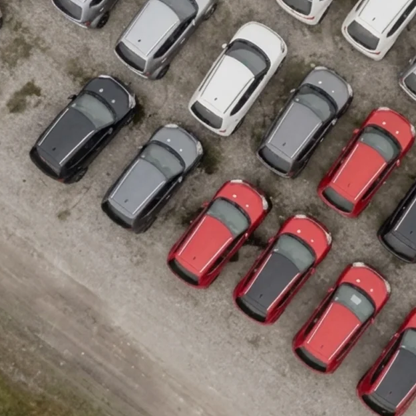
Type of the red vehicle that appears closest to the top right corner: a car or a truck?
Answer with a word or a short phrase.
car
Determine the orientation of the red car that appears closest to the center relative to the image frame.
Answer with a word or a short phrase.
at an angle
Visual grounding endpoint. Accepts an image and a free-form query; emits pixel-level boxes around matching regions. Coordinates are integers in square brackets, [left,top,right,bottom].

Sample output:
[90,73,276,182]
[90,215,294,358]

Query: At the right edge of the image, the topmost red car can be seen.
[312,104,415,218]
